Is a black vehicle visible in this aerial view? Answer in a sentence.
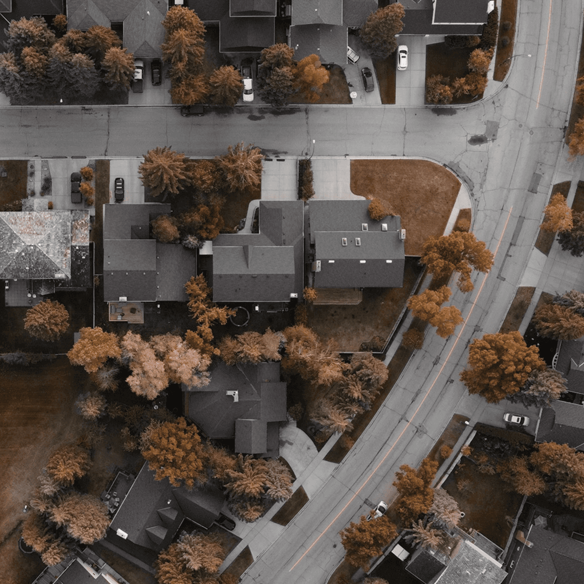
Yes, you can see a black vehicle in this photo.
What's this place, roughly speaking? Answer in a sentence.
It's a residential area.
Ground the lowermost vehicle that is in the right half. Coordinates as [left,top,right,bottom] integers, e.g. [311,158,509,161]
[368,495,389,520]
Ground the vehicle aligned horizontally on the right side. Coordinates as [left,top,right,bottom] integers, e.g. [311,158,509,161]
[500,413,528,426]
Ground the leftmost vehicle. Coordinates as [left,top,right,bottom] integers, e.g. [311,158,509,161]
[69,172,82,204]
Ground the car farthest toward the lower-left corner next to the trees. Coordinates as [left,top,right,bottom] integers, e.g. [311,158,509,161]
[217,513,236,529]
